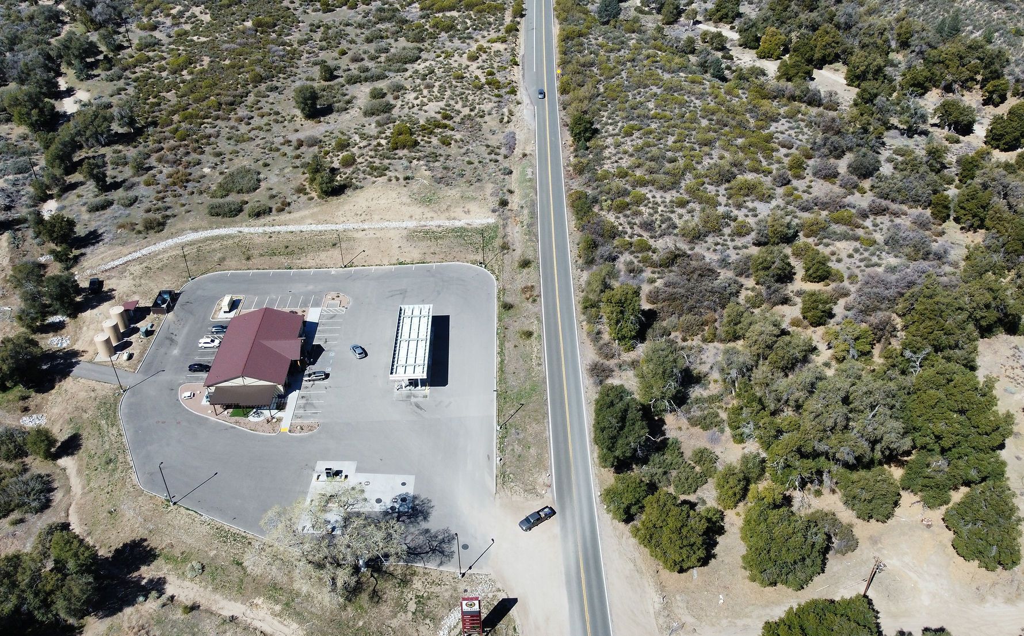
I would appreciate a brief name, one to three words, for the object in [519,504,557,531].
truck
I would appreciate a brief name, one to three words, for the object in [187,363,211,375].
vehicle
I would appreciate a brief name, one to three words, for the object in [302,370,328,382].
vehicle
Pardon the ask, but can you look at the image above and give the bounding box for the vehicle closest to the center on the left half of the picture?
[348,345,367,359]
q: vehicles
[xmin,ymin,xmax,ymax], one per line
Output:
[348,345,367,359]
[196,338,221,349]
[187,363,211,375]
[519,504,557,531]
[89,280,100,294]
[209,324,227,335]
[302,370,328,382]
[538,89,545,97]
